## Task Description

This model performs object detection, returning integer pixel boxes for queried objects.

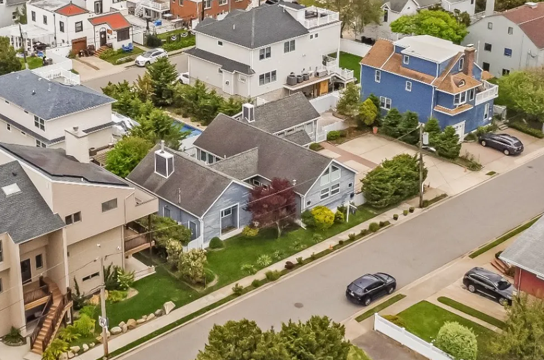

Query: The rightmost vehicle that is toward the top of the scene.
[477,132,525,155]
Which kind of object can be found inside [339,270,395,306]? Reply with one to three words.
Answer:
car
